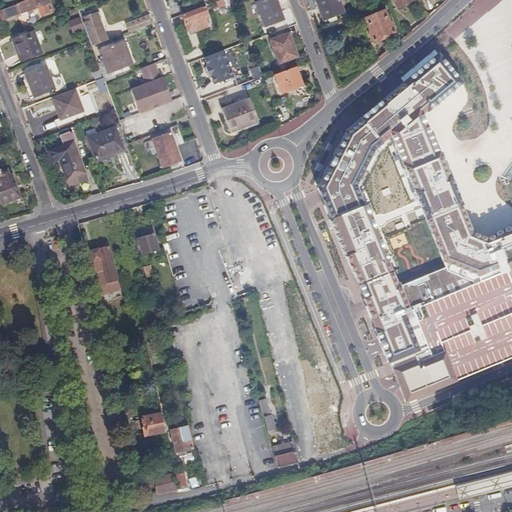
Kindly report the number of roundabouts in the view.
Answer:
2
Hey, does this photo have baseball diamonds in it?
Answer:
No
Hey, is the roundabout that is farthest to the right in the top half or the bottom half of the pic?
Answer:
bottom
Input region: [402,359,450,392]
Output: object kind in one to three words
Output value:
building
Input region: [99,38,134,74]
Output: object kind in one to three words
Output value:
house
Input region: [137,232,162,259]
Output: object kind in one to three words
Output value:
house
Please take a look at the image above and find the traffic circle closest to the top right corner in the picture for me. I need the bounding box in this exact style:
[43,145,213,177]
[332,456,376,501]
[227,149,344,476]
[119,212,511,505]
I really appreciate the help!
[247,136,305,194]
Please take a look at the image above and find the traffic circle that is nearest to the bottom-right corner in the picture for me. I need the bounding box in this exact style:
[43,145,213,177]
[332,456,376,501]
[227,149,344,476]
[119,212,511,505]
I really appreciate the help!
[352,388,404,439]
